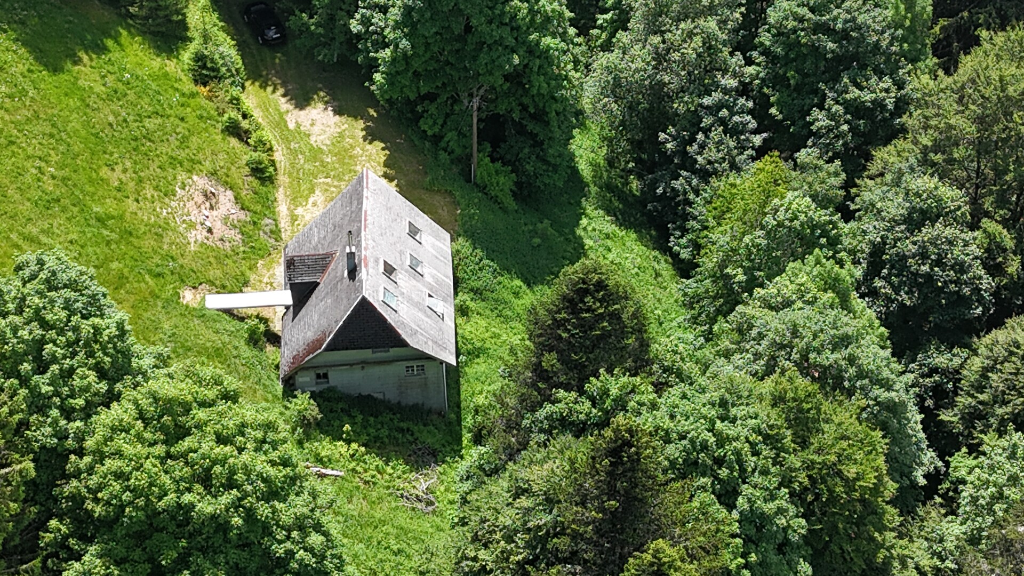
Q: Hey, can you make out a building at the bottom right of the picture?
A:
No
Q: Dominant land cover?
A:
trees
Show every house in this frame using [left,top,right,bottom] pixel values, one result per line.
[278,169,458,412]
